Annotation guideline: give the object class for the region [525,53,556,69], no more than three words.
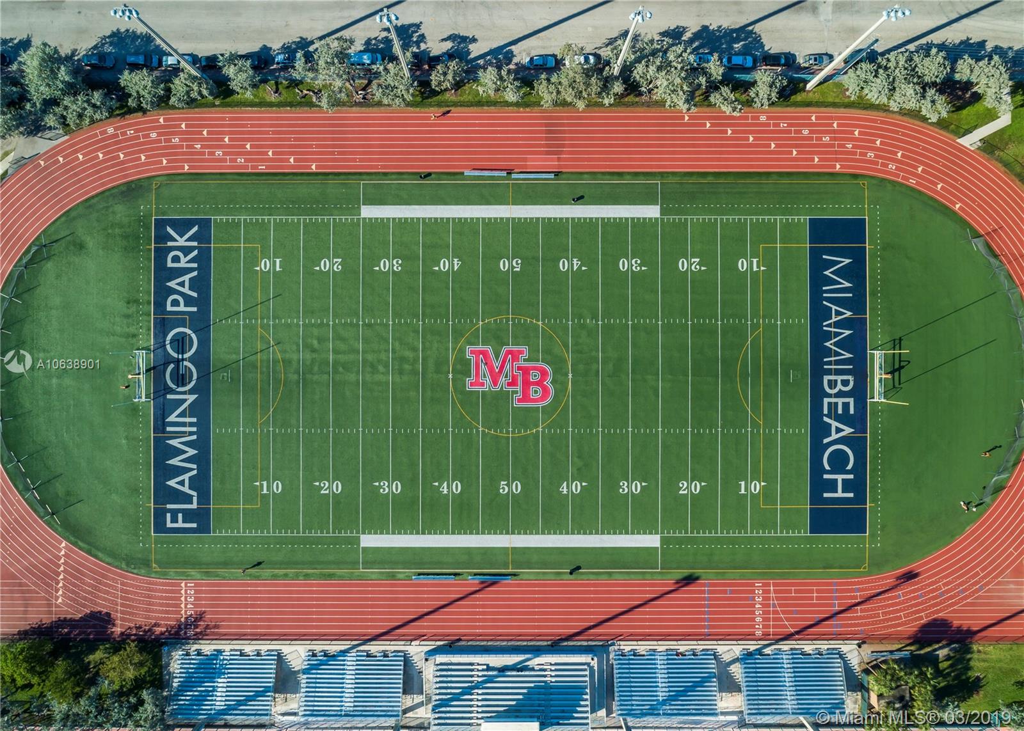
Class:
car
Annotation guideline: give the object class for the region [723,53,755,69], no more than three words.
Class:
car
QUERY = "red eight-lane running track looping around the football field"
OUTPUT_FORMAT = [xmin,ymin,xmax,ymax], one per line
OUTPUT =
[0,111,1024,641]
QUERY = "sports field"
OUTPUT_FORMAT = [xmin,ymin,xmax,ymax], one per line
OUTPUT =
[0,172,1024,580]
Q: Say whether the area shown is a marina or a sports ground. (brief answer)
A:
sports ground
